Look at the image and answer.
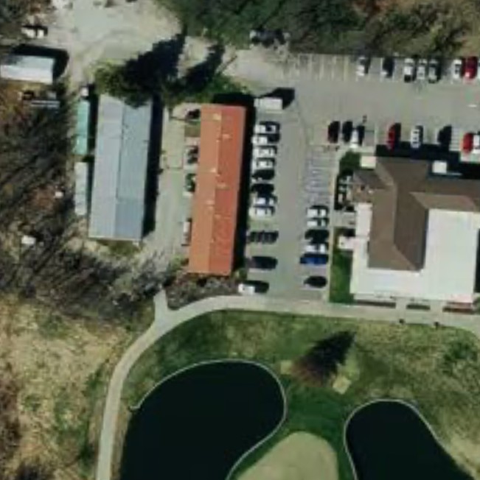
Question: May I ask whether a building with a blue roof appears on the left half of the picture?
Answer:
No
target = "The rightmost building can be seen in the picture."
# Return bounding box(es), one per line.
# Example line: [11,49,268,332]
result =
[337,155,480,305]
